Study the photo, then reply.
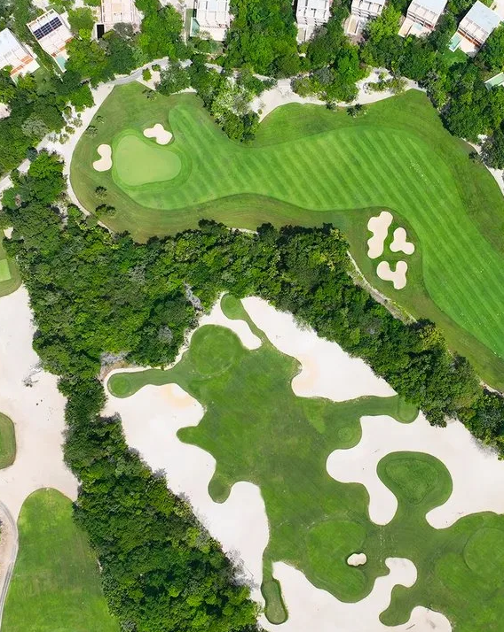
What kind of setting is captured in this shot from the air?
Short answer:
golf course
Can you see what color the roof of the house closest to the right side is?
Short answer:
white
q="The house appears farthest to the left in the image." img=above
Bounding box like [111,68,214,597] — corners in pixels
[0,26,41,80]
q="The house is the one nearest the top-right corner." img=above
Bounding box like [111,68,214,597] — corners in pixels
[456,1,501,55]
